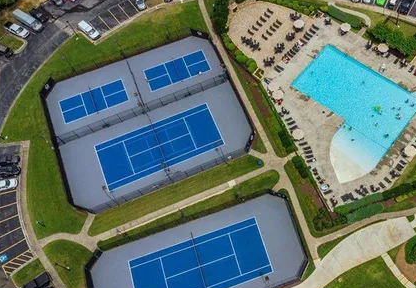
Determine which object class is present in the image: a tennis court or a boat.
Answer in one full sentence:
This aerial view contains a tennis court.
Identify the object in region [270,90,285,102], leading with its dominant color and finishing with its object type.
white umbrella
